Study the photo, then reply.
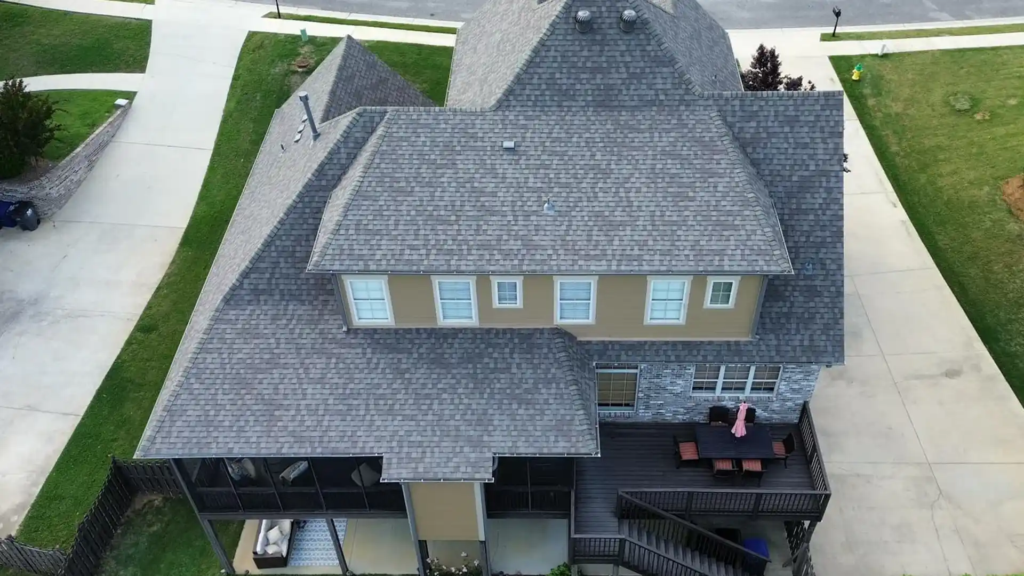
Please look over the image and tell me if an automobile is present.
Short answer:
No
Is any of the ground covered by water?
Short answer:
No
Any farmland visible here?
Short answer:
No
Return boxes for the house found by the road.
[132,0,845,576]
